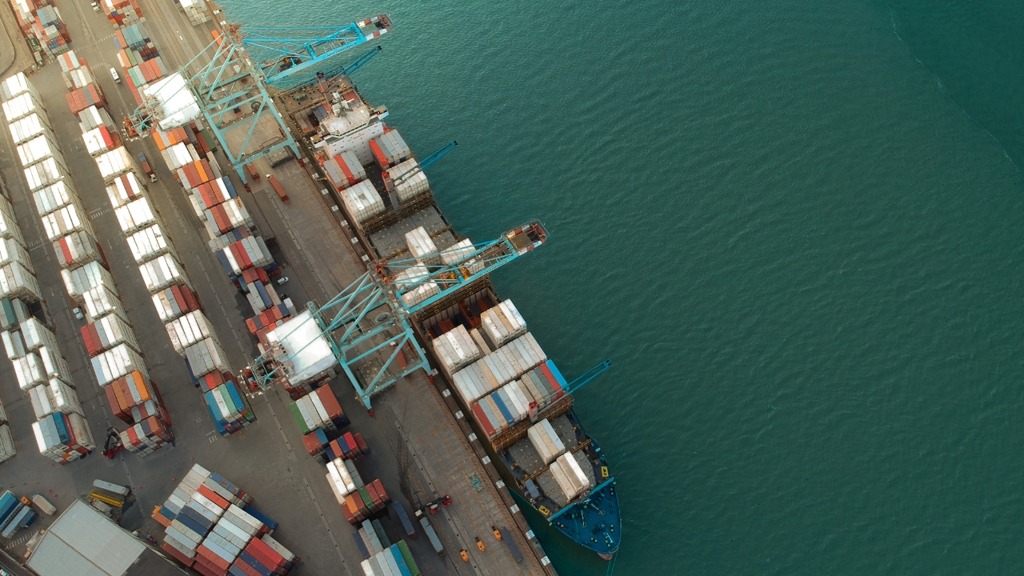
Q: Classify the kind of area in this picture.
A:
port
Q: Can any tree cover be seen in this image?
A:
No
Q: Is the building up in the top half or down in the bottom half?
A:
bottom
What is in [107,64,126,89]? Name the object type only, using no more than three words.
vehicle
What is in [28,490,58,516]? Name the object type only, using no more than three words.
truck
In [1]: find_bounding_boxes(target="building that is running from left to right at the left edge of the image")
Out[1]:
[24,498,195,576]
